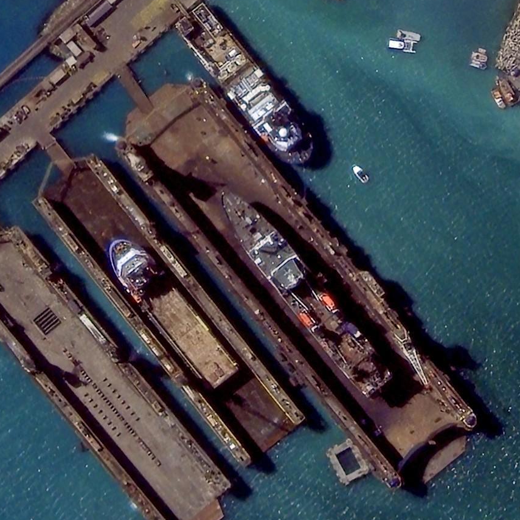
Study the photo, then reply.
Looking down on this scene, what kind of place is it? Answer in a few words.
port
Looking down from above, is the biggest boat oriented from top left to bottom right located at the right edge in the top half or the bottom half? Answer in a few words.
top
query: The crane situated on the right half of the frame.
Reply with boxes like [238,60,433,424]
[388,318,429,387]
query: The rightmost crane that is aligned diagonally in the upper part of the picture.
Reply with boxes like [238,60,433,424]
[125,152,160,186]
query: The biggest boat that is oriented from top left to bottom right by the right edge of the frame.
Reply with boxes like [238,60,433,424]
[496,79,519,105]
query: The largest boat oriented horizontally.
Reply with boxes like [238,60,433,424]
[388,39,416,54]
